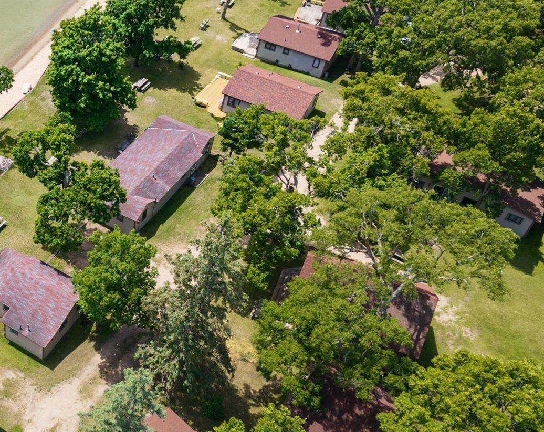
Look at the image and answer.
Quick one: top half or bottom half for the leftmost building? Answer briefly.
bottom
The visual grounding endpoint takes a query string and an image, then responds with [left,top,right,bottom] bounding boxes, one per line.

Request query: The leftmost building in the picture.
[0,246,95,357]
